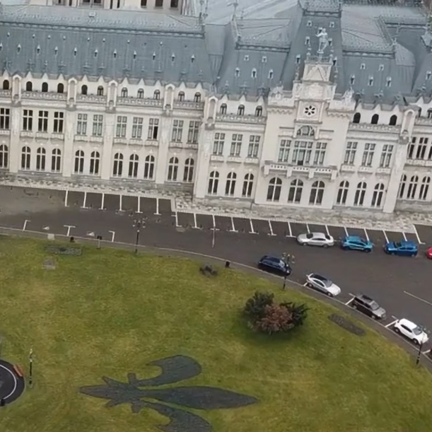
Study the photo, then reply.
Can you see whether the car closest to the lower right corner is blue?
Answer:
No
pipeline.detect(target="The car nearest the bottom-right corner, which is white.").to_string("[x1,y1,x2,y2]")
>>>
[393,320,431,345]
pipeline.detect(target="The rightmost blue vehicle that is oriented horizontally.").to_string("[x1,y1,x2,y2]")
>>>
[384,241,421,259]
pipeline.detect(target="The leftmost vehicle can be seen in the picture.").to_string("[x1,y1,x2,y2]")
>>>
[256,256,294,276]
